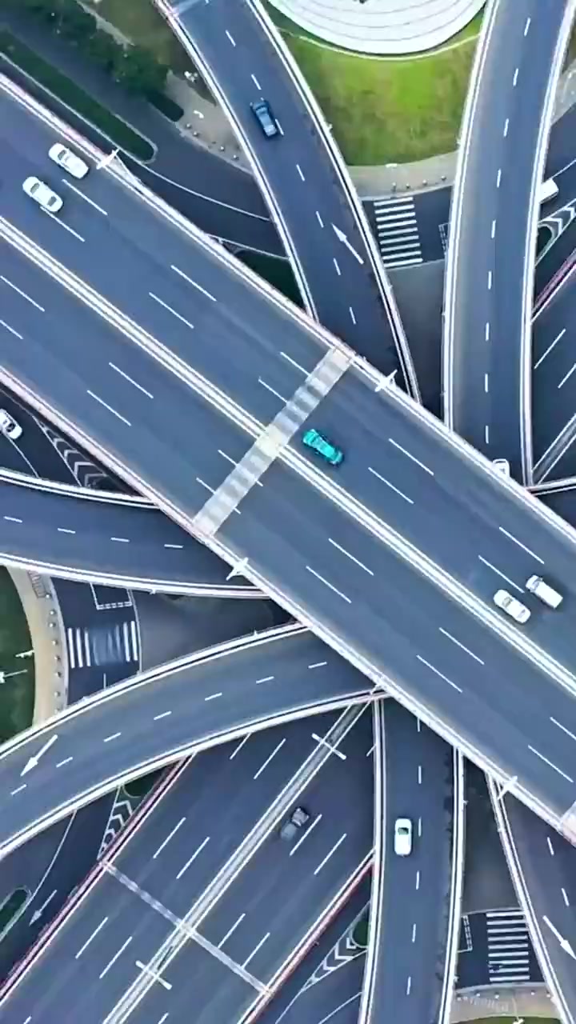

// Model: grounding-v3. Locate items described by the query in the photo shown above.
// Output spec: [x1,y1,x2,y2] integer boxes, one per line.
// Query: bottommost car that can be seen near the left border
[0,403,24,438]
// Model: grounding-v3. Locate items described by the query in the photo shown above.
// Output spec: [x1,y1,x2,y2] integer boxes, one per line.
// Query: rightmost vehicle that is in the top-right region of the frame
[542,180,557,202]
